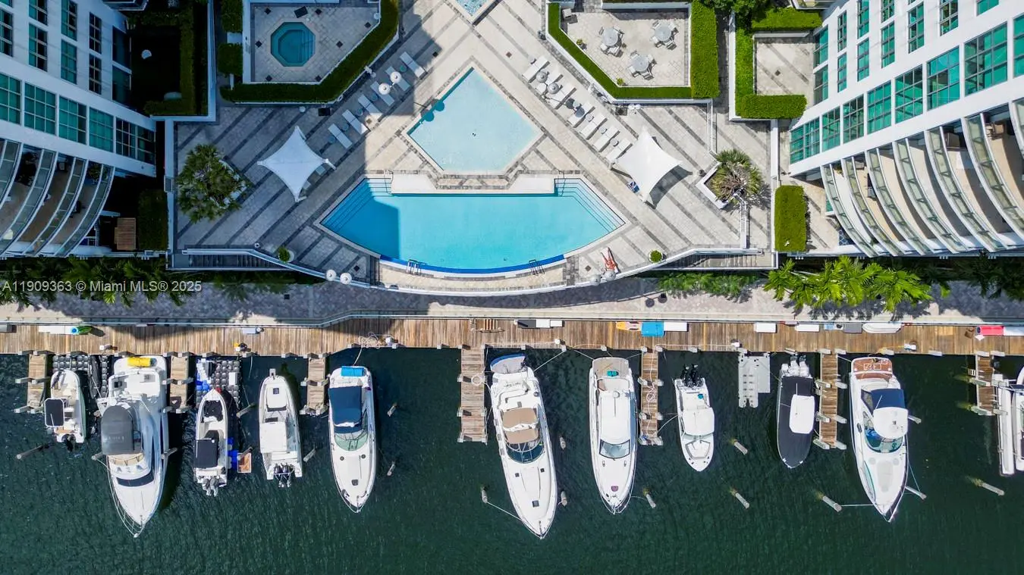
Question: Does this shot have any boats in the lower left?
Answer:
Yes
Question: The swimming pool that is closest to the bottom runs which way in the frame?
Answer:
from side to side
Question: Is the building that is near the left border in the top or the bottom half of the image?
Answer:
top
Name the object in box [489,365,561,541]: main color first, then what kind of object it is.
white boat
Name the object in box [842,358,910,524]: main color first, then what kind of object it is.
white boat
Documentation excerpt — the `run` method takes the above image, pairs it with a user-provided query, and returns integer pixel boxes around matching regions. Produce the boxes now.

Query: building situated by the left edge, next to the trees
[0,0,157,255]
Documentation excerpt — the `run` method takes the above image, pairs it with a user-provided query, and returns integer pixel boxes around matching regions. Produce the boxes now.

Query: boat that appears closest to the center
[488,353,527,373]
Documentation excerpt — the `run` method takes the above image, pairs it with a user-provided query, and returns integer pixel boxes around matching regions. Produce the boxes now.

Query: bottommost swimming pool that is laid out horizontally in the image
[309,171,636,277]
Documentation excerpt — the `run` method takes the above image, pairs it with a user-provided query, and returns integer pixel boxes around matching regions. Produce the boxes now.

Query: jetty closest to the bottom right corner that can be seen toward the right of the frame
[959,355,1009,416]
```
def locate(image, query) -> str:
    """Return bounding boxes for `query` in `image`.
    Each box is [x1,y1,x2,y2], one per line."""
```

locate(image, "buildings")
[788,0,1024,255]
[0,0,157,255]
